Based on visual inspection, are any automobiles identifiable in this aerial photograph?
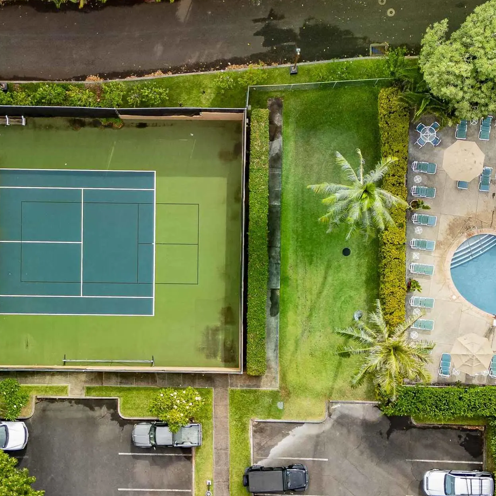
Yes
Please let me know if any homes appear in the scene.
No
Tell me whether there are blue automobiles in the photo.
No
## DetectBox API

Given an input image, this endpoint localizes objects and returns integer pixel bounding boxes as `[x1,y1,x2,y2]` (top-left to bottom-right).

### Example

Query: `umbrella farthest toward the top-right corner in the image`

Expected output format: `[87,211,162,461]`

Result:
[442,139,484,181]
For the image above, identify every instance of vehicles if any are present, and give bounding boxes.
[245,464,310,495]
[132,421,203,450]
[422,467,495,496]
[0,421,31,453]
